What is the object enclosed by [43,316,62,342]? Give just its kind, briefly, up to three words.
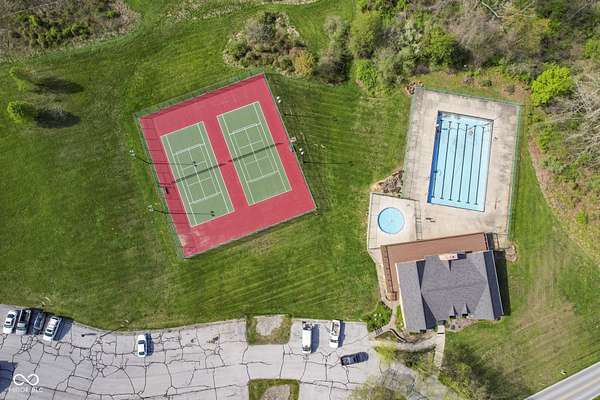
car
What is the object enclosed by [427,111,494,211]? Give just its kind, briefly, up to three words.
swimming pool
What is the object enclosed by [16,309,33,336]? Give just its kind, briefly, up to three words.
vehicle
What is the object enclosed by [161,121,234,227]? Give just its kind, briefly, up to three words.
tennis court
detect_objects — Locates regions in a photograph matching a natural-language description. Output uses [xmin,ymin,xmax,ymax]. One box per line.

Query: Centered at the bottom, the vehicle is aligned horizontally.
[340,350,370,365]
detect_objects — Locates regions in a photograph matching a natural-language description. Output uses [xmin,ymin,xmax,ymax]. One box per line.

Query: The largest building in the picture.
[397,250,503,334]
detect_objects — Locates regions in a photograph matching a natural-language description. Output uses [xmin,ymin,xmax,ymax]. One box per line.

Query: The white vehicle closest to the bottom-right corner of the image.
[329,319,342,349]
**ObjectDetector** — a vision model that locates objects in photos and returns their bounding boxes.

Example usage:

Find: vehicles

[30,311,47,337]
[329,319,342,349]
[43,316,62,342]
[16,309,33,336]
[340,350,370,365]
[302,319,313,353]
[137,334,148,357]
[3,310,18,334]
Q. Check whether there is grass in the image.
Yes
